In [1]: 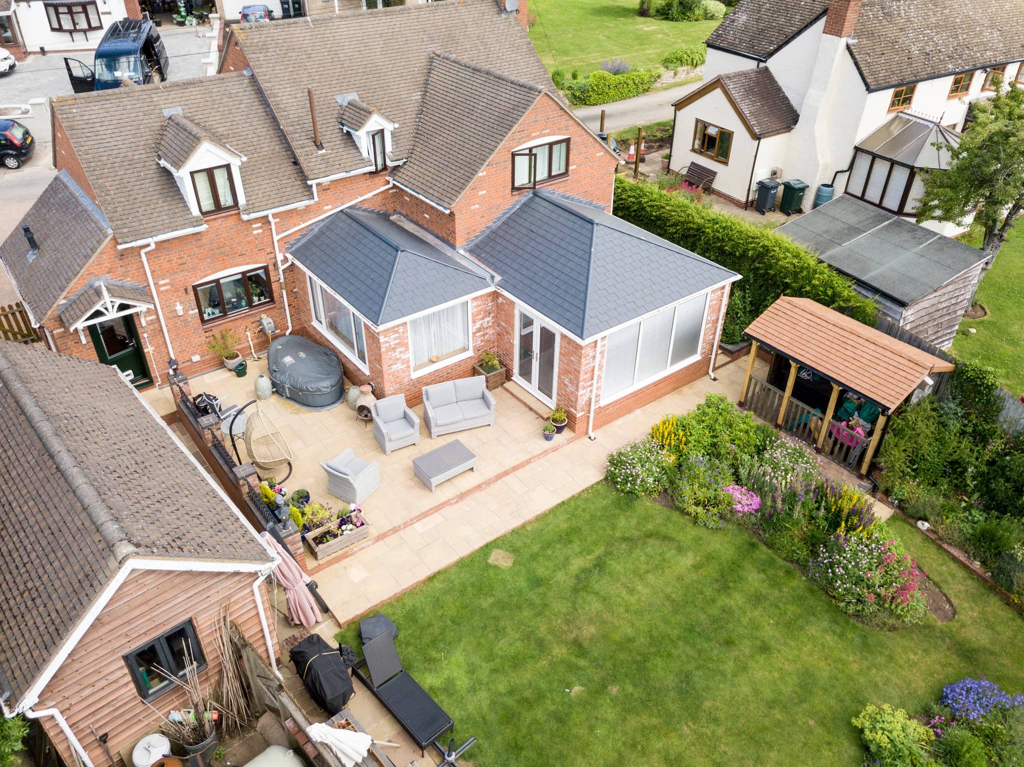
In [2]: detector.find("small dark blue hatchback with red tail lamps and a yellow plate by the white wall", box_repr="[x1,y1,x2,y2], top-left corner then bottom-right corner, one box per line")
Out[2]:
[0,105,44,160]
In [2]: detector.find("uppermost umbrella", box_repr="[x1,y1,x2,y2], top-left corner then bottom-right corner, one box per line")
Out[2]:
[260,512,328,643]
